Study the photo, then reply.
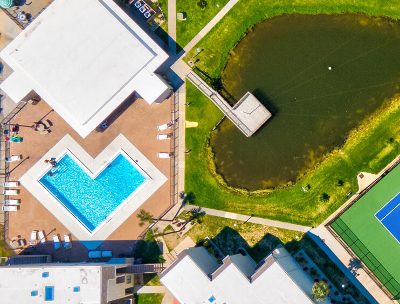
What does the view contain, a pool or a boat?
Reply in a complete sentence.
The one in the frame is a pool.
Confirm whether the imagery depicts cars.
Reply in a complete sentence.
No, no car is visible in the scene.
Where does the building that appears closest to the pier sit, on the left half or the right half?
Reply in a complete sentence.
The building that appears closest to the pier sits on the left side.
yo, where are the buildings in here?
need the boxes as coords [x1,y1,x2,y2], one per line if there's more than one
[159,245,335,304]
[0,261,143,304]
[0,0,171,139]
